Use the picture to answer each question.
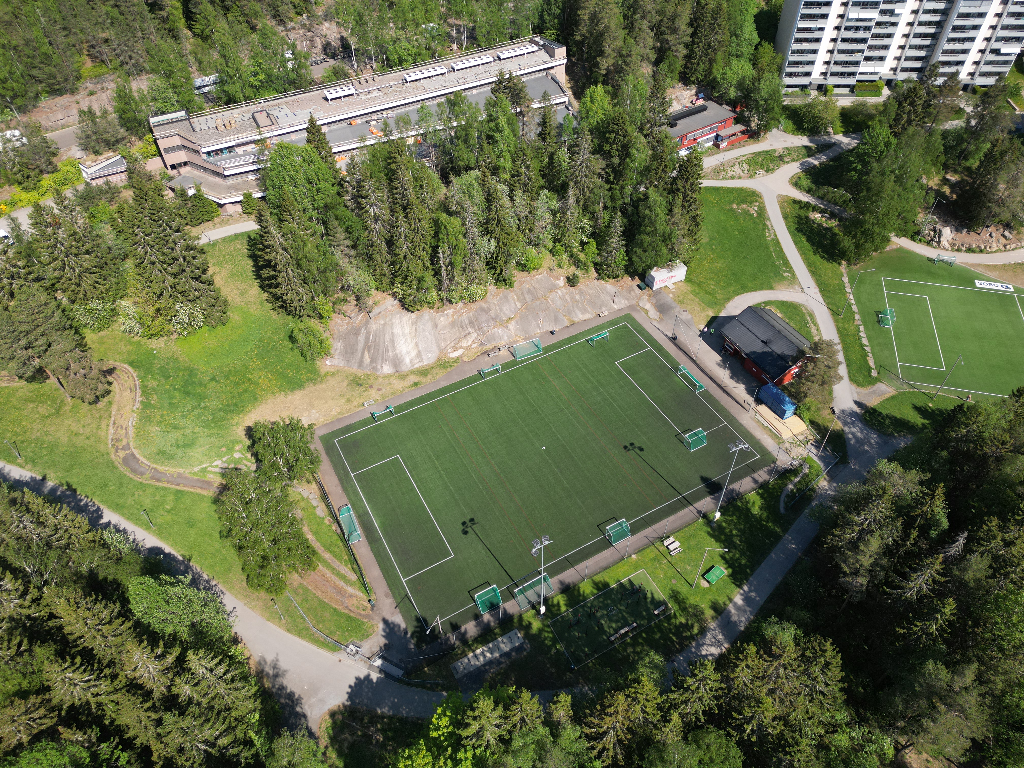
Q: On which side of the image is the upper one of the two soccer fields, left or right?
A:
right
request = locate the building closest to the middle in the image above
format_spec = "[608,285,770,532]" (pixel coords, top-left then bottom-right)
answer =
[649,264,687,292]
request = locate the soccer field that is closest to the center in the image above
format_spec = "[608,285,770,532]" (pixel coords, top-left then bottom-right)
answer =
[319,313,777,650]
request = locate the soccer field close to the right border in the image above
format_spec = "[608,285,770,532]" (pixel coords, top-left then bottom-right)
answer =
[848,247,1024,406]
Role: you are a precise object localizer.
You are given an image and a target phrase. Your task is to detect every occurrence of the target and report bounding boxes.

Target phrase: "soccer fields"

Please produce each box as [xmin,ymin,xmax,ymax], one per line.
[319,313,777,650]
[848,247,1024,406]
